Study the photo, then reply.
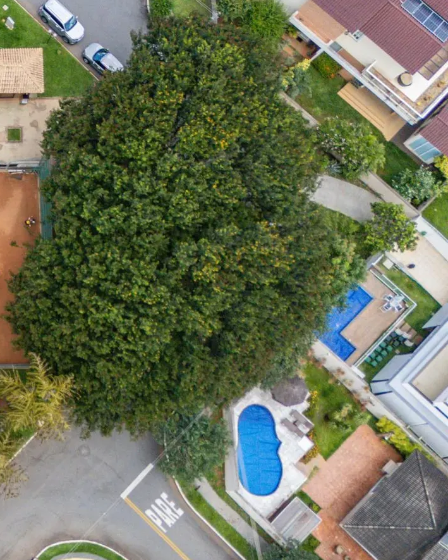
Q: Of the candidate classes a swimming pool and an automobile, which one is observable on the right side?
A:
swimming pool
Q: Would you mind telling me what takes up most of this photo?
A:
trees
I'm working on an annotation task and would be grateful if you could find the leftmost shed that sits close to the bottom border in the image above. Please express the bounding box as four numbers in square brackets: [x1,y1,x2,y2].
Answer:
[270,496,322,543]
